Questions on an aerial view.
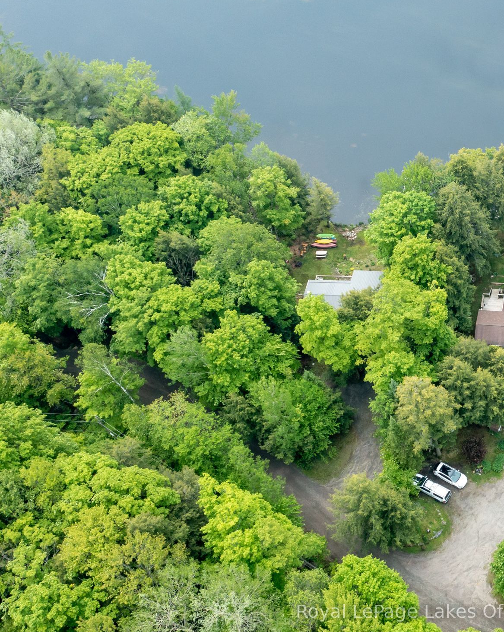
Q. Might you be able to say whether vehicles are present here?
Yes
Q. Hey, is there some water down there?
Yes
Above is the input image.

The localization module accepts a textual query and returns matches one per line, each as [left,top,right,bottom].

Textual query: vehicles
[410,471,454,504]
[431,462,469,491]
